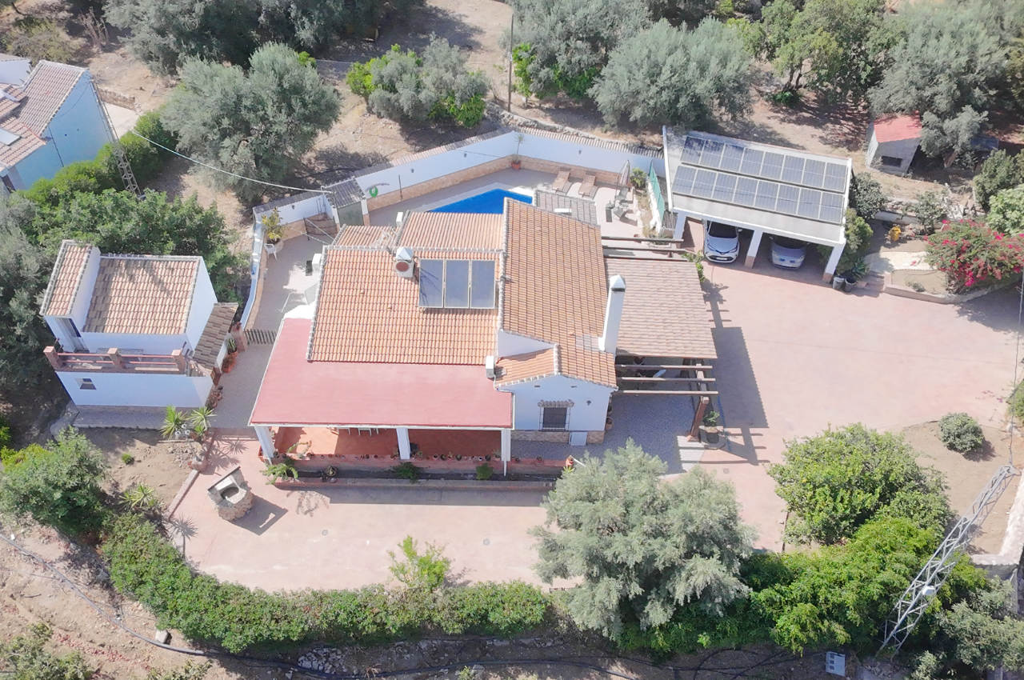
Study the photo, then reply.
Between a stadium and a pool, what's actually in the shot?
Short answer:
pool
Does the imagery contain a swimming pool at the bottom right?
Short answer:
No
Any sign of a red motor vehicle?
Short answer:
No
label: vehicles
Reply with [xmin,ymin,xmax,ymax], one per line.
[772,235,812,267]
[704,221,750,261]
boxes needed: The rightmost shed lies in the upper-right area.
[869,122,925,177]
